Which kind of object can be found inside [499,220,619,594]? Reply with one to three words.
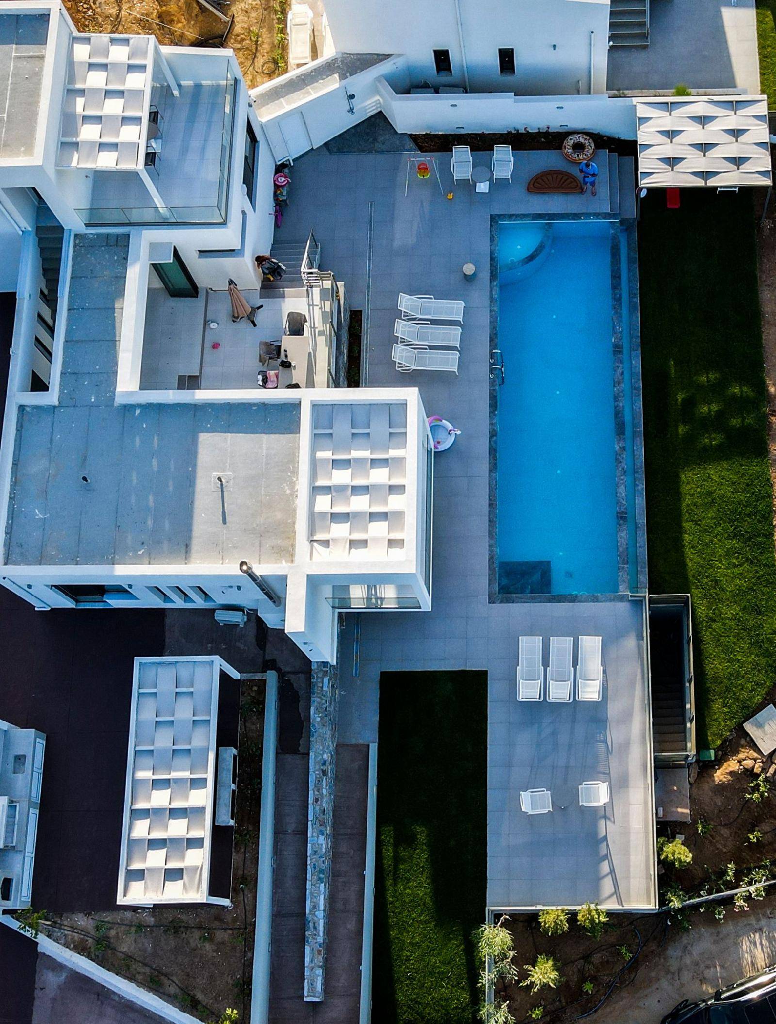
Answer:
swimming pool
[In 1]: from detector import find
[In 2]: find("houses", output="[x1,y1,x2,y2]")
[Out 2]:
[0,0,432,670]
[319,0,611,95]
